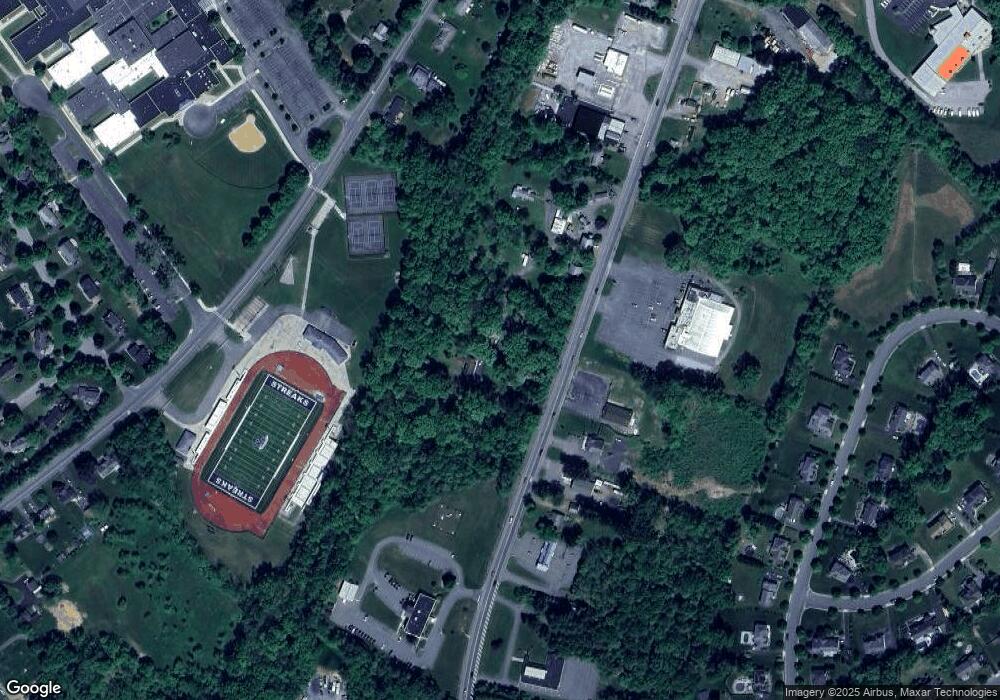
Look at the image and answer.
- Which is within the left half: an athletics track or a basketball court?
athletics track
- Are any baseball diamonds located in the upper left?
Yes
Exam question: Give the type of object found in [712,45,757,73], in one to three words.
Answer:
building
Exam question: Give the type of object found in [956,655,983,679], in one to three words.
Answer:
house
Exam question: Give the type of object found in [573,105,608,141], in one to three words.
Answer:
building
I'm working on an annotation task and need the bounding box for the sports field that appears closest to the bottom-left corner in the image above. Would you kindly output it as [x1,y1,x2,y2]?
[201,370,323,513]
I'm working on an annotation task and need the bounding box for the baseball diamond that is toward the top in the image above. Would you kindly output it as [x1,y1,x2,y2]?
[229,114,266,154]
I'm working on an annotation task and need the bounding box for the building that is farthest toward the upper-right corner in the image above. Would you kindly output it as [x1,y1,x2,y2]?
[913,4,993,97]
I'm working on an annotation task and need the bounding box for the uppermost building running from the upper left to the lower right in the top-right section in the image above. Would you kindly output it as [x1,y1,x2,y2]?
[783,6,833,54]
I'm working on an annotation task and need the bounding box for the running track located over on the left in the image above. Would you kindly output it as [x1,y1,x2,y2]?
[192,350,344,537]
